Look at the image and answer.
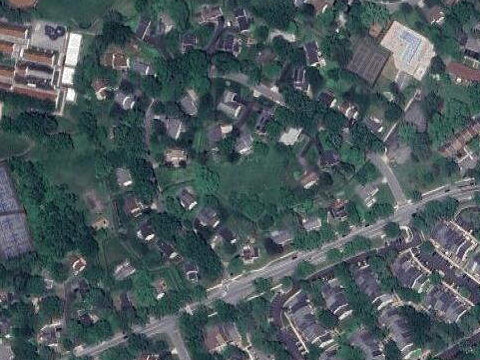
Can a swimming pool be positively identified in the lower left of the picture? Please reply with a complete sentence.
No, I can find no swimming pool in the lower left of the picture.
